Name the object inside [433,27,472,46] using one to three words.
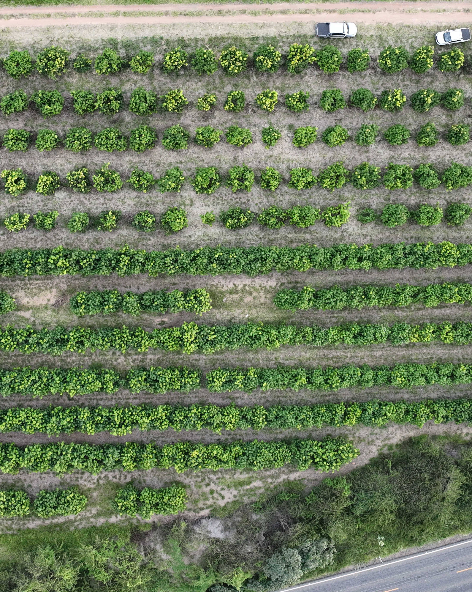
vehicle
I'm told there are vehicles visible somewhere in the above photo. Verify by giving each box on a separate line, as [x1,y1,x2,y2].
[433,27,472,46]
[315,21,356,39]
